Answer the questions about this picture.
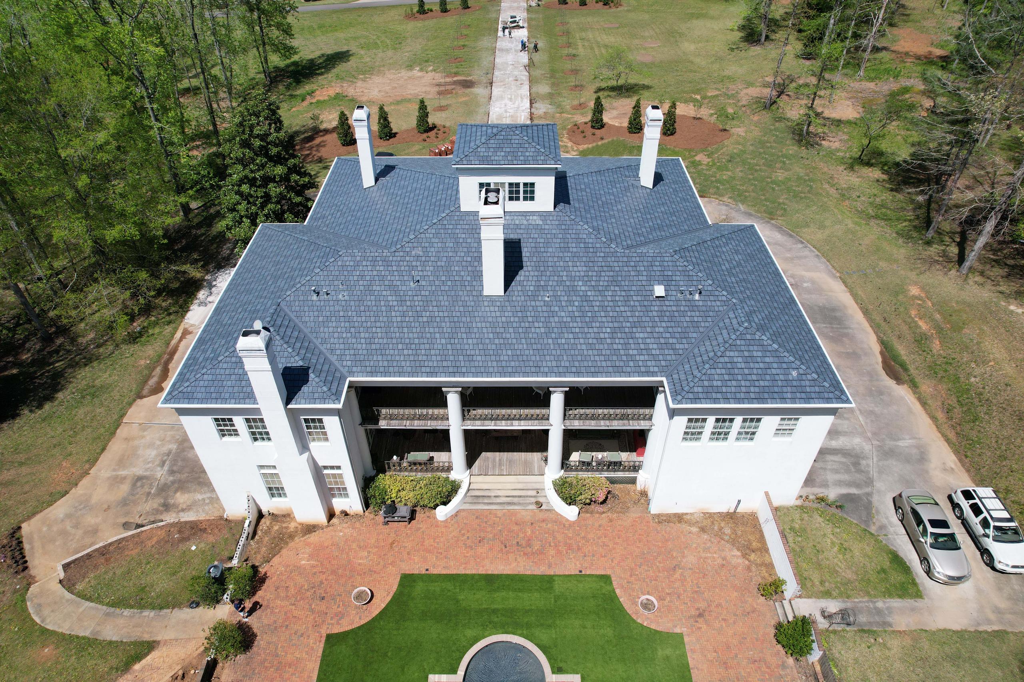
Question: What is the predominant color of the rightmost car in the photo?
white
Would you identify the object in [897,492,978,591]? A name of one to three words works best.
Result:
car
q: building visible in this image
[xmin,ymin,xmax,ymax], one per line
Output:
[159,101,854,523]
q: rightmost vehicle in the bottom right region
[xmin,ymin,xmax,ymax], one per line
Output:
[955,486,1024,585]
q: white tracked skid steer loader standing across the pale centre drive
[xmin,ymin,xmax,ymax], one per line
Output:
[498,10,524,28]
